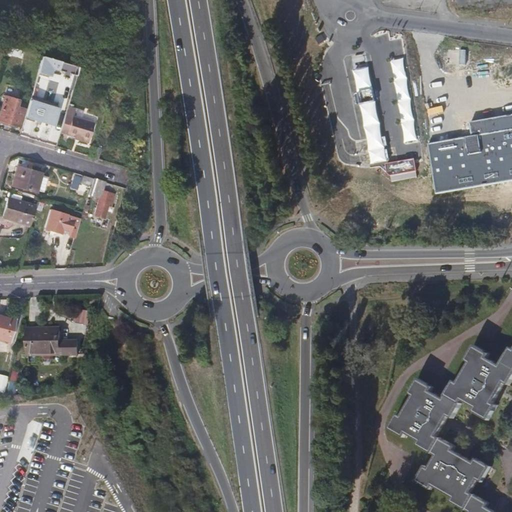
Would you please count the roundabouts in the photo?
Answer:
2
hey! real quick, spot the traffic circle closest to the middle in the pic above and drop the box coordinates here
[266,228,340,302]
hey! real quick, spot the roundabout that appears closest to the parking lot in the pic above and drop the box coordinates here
[117,246,192,321]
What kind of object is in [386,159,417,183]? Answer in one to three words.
building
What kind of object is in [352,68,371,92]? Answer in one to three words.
tent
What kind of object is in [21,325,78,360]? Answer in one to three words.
house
